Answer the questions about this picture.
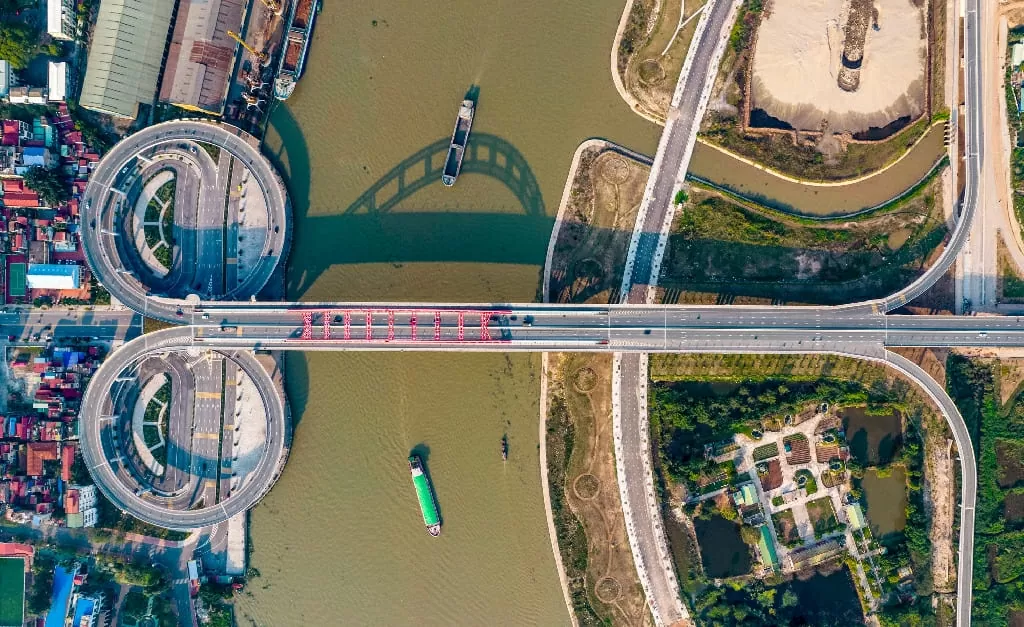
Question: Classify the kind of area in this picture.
port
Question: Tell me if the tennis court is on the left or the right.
left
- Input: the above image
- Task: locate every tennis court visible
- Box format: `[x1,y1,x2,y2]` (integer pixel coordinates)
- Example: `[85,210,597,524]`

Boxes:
[6,261,29,304]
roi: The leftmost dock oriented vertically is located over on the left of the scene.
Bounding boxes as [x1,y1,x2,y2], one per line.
[227,508,249,574]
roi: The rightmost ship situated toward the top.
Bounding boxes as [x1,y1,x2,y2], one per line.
[444,96,473,187]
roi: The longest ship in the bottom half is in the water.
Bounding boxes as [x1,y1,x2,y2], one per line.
[408,455,440,539]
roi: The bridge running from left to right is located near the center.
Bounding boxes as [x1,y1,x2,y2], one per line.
[169,292,1024,361]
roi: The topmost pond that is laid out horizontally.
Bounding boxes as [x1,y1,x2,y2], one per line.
[652,378,857,395]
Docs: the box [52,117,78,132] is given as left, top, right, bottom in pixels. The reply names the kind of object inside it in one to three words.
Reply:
house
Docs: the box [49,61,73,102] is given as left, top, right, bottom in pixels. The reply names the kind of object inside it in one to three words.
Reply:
house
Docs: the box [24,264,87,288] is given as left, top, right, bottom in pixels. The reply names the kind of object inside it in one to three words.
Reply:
building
